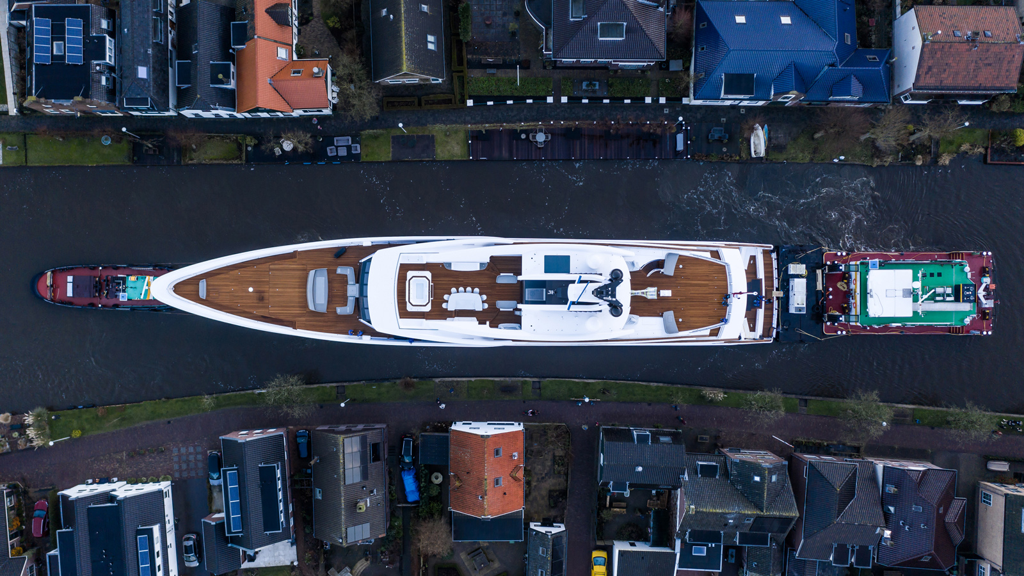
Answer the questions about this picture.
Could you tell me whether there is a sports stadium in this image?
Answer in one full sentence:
No, this view has no sports stadium in it.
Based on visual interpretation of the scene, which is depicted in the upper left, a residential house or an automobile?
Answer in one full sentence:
It is a residential house that can be seen in the upper left.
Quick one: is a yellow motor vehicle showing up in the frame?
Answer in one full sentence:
Yes, a yellow motor vehicle is visible in the scene.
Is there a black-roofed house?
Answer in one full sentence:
Yes, I can see a black-roofed house in this picture.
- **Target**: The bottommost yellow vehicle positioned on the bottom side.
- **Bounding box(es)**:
[590,547,610,576]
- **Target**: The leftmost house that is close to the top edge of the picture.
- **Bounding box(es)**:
[8,0,135,114]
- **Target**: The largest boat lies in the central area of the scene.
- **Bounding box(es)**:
[150,236,778,346]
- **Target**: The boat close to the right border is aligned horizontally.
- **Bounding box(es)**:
[821,251,1000,335]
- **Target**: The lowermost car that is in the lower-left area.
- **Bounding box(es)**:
[179,534,199,570]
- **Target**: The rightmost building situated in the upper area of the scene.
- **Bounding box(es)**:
[894,6,1024,101]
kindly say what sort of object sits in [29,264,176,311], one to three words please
boat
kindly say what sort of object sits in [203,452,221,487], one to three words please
car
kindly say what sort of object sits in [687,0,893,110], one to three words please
house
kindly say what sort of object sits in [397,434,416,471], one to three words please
car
